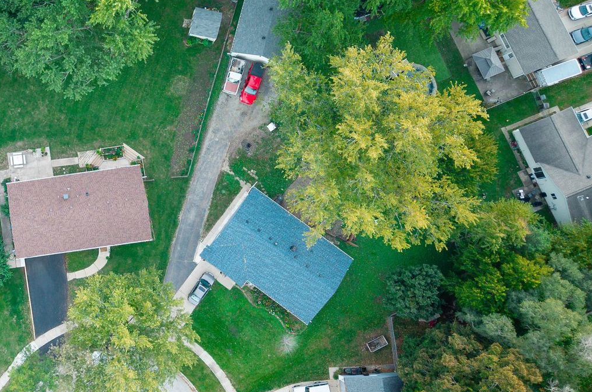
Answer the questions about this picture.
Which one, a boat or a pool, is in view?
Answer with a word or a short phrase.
pool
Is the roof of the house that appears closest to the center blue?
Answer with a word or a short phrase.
Yes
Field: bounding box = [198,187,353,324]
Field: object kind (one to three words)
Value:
house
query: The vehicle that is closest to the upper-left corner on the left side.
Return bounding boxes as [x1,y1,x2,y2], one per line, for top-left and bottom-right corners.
[226,53,246,94]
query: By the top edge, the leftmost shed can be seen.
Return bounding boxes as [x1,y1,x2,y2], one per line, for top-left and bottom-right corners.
[188,7,222,40]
